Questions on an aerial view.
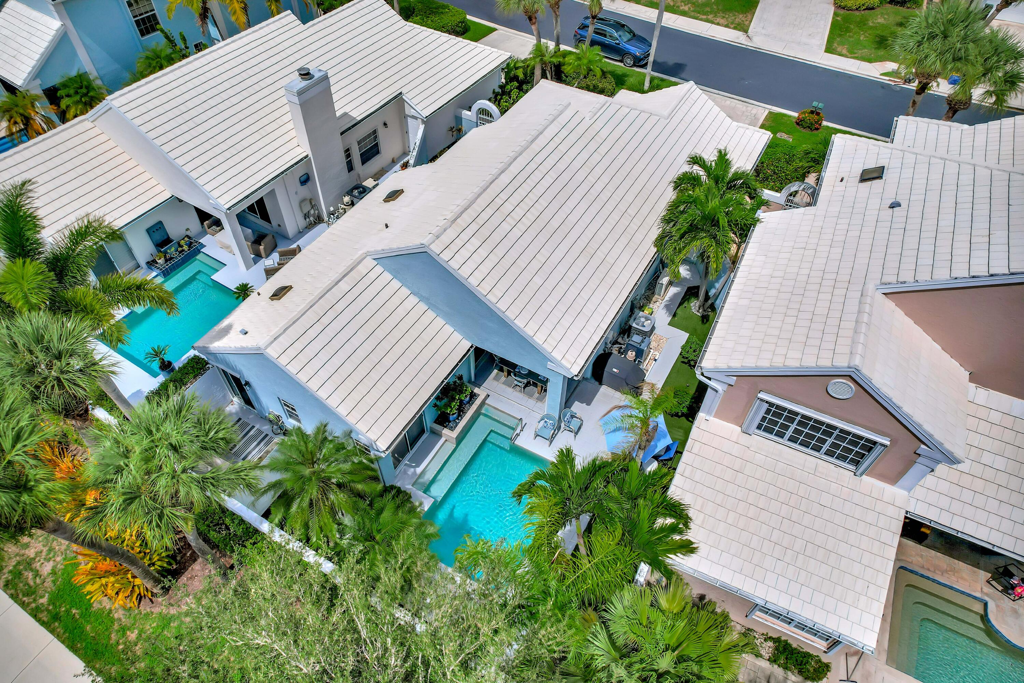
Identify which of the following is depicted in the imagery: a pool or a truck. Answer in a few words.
pool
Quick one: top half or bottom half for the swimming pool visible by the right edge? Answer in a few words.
bottom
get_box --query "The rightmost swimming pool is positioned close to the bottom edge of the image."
[877,560,1024,683]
